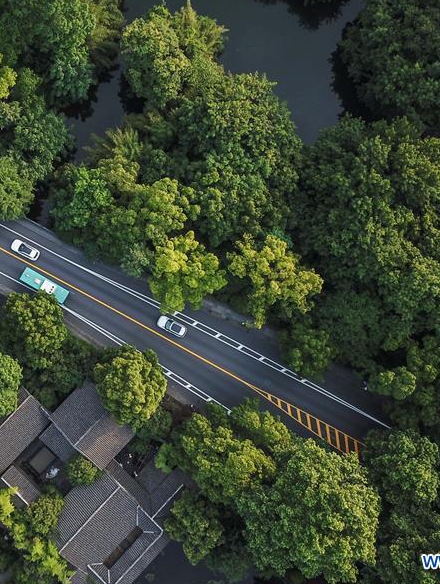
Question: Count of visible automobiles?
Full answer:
The picture shows 2 automobiles.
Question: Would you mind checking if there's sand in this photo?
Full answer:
No, the picture contains no sand.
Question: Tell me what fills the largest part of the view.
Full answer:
For the most part, this view shows trees.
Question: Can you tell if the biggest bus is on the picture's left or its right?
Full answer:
It is on the left.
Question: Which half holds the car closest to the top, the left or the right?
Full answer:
The car closest to the top sits on the left side.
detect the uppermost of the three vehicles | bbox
[10,238,42,262]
